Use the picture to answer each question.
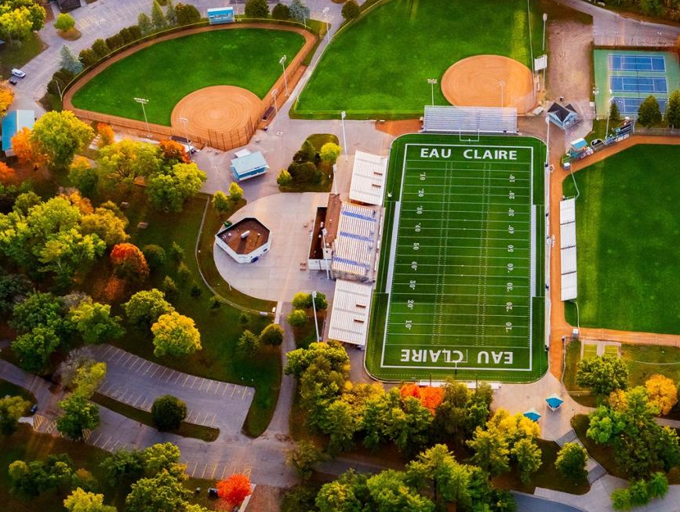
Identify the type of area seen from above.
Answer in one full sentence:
The area seen from above is a sports ground.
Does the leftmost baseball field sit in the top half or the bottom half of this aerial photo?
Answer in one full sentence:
It is in the top half that the leftmost baseball field appears.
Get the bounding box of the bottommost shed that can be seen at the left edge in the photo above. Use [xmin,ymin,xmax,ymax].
[1,109,33,159]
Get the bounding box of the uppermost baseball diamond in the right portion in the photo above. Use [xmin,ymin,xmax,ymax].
[287,0,546,120]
